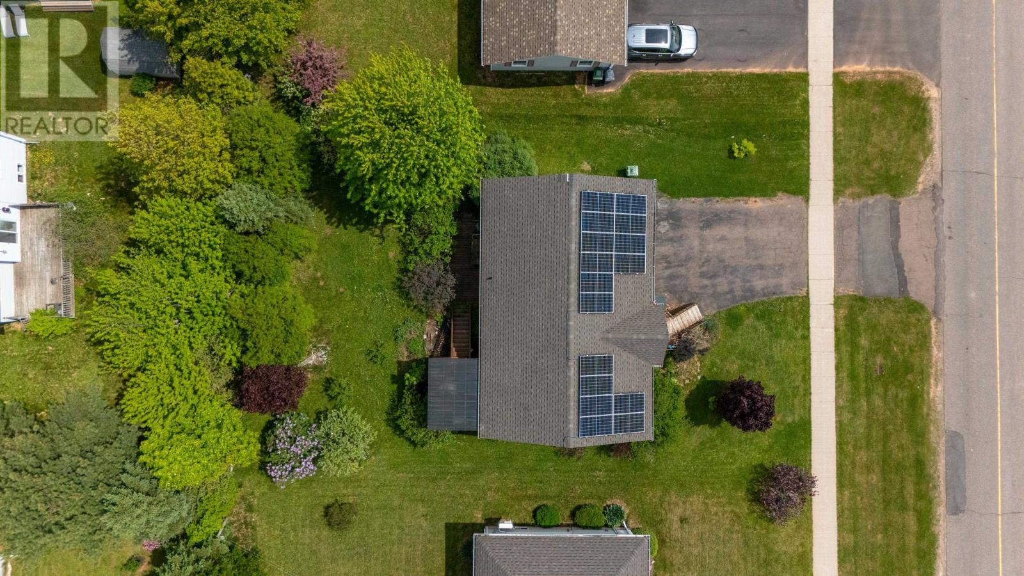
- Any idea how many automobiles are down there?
1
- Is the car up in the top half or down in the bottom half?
top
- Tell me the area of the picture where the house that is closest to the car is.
top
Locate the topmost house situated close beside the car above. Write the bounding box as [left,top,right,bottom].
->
[480,0,628,78]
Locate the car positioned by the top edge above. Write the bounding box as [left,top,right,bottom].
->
[628,19,698,62]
